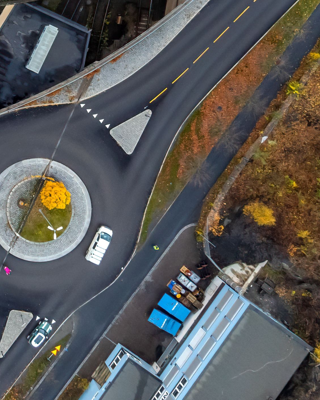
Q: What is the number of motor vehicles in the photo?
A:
2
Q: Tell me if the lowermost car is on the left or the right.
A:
left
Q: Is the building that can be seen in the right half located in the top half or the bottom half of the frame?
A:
bottom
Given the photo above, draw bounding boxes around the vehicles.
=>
[87,226,114,266]
[30,321,53,350]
